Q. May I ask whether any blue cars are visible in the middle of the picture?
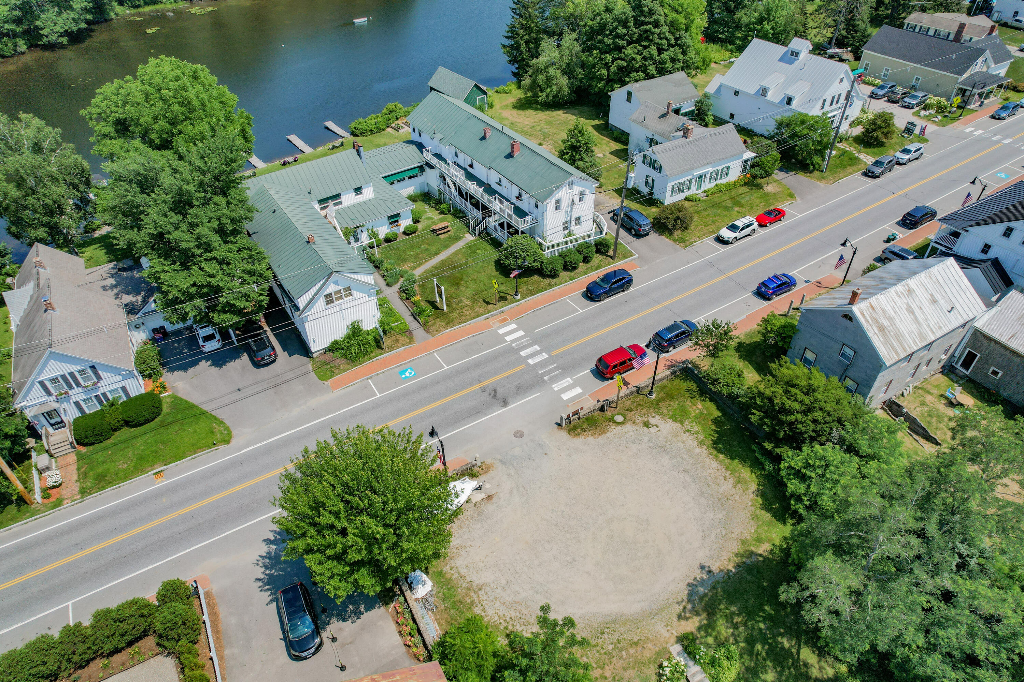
Yes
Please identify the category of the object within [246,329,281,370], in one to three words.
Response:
car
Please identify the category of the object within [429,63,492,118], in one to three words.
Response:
building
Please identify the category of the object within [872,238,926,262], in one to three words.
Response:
car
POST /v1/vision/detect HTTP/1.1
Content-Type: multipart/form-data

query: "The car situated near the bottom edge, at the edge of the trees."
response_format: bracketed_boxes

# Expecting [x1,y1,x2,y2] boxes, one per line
[276,581,326,668]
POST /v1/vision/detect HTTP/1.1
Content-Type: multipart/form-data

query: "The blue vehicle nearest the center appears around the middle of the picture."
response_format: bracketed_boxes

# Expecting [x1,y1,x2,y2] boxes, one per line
[585,269,635,302]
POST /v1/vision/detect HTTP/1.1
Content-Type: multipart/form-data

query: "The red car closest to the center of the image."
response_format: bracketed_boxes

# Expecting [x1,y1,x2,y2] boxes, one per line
[592,344,647,380]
